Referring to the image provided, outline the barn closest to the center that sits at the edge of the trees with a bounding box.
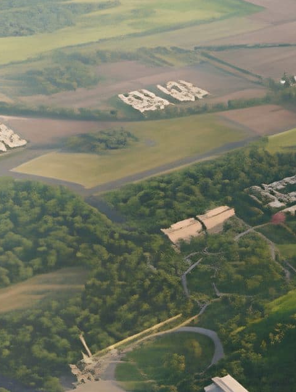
[163,220,205,252]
